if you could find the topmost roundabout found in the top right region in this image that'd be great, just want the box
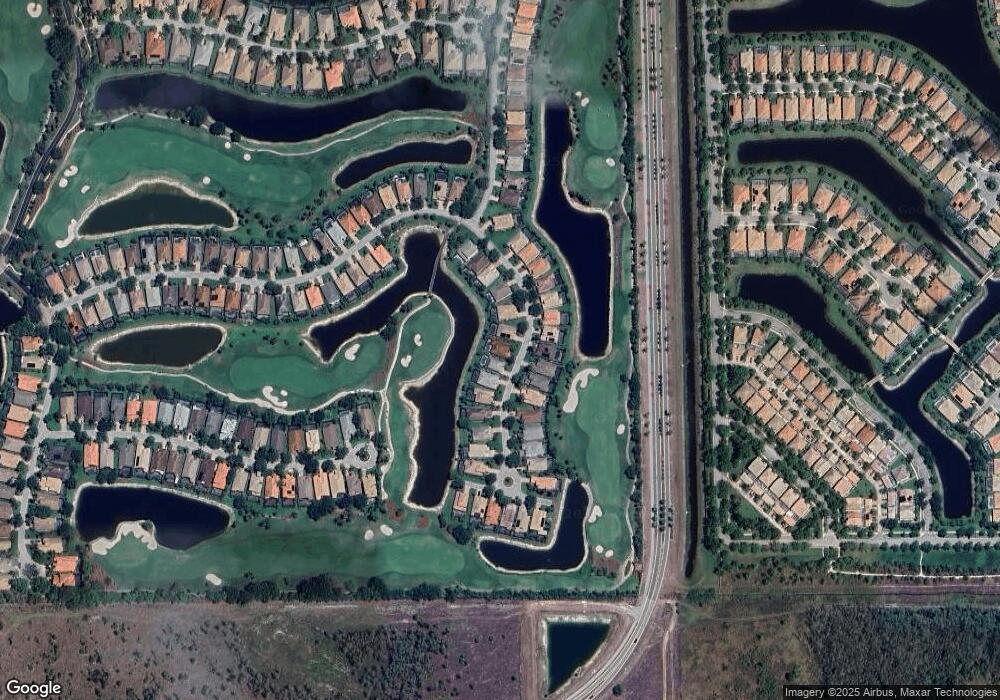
[972,169,1000,203]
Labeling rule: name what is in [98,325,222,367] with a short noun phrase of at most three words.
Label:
pond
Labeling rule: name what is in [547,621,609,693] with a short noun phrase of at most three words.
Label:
pond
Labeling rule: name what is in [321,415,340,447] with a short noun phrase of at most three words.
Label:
house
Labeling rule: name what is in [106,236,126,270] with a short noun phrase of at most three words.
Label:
house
